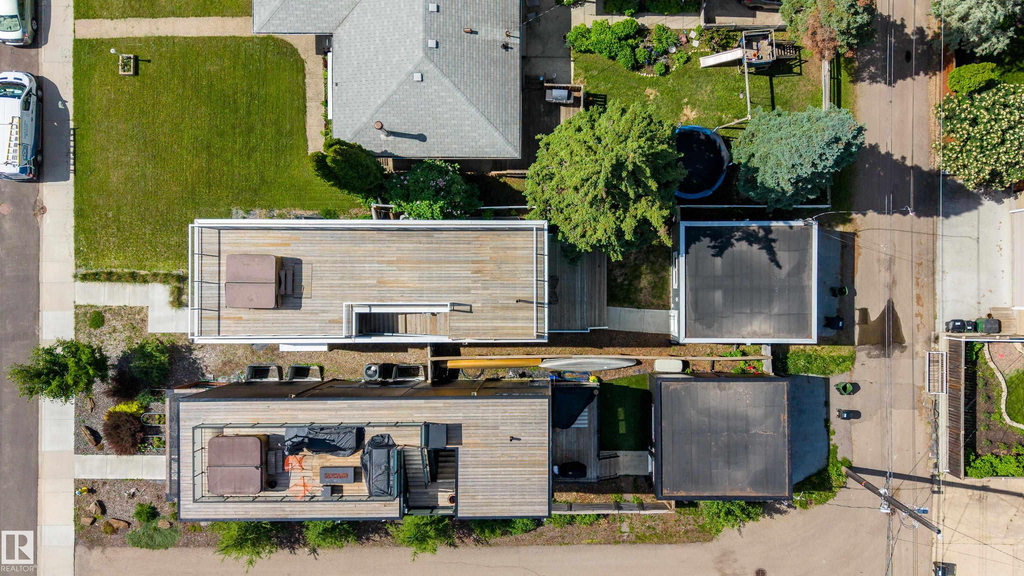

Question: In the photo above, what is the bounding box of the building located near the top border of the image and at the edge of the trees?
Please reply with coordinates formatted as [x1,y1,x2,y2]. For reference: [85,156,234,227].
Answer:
[250,0,524,161]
